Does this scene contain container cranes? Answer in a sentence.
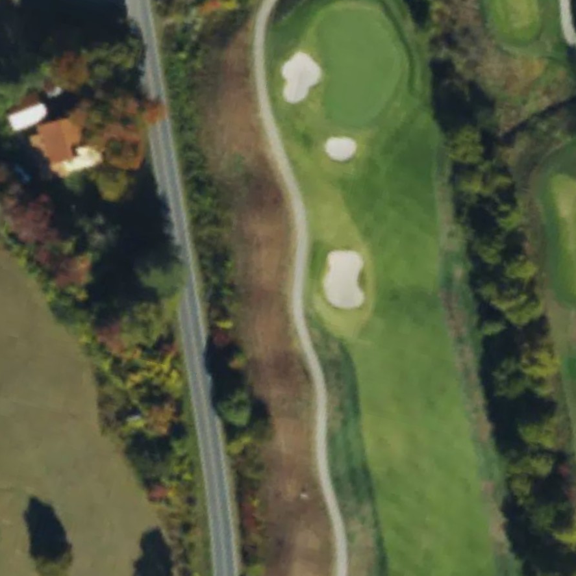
No, no container crane can be seen from above.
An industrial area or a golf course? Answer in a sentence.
What you see here is a golf course.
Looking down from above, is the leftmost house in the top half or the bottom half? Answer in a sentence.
Seen from above, the leftmost house lies in the top half of the view.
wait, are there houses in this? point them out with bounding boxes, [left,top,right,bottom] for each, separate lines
[29,117,87,175]
[8,99,48,131]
